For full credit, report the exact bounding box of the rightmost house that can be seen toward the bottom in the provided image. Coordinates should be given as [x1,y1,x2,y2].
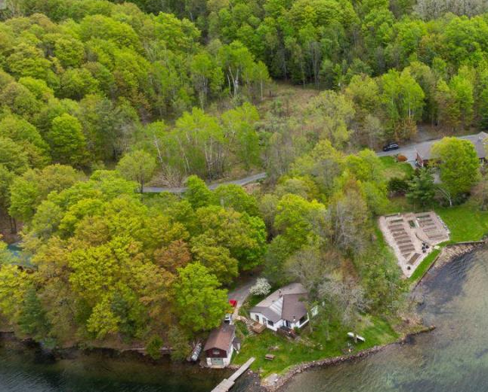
[248,284,308,332]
